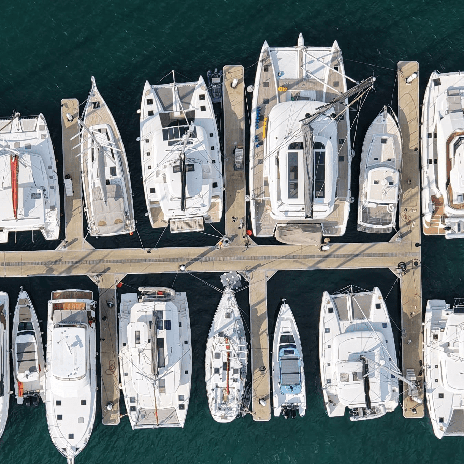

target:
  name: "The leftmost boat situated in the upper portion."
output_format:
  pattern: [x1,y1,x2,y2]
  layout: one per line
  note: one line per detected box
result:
[0,110,60,243]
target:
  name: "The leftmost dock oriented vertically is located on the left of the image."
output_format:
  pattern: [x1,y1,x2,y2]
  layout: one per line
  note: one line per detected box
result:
[55,98,95,250]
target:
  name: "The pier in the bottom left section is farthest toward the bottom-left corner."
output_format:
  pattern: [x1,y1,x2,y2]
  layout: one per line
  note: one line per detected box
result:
[87,274,126,425]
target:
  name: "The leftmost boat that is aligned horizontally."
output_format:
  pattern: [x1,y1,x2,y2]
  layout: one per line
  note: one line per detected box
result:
[138,287,174,301]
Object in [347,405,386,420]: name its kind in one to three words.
boat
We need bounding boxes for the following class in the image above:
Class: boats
[273,297,305,418]
[208,72,224,101]
[0,110,60,243]
[249,34,378,236]
[140,70,222,233]
[347,405,386,420]
[65,76,135,236]
[138,287,174,301]
[316,285,415,417]
[12,286,46,406]
[206,282,253,424]
[418,69,464,235]
[47,290,96,464]
[239,382,253,417]
[442,217,464,239]
[0,291,9,432]
[120,292,191,428]
[422,297,464,438]
[357,106,405,233]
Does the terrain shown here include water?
Yes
